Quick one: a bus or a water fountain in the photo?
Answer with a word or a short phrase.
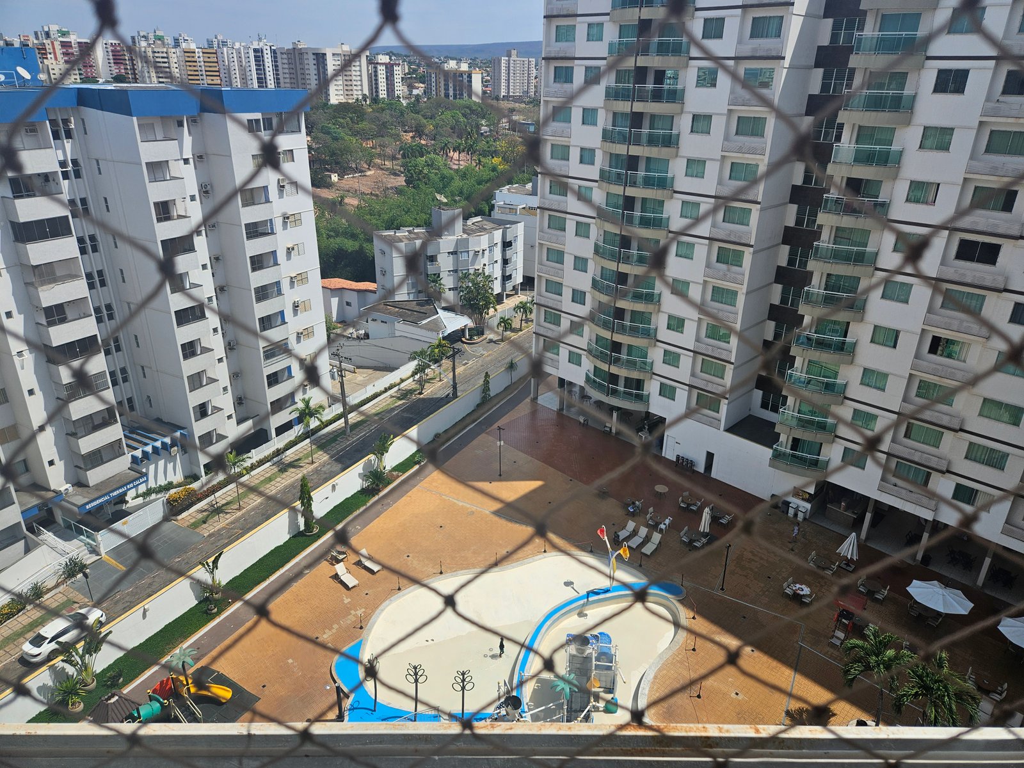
water fountain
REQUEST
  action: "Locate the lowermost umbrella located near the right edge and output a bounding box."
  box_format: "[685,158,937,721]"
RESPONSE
[989,610,1024,664]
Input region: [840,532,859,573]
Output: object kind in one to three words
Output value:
umbrella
